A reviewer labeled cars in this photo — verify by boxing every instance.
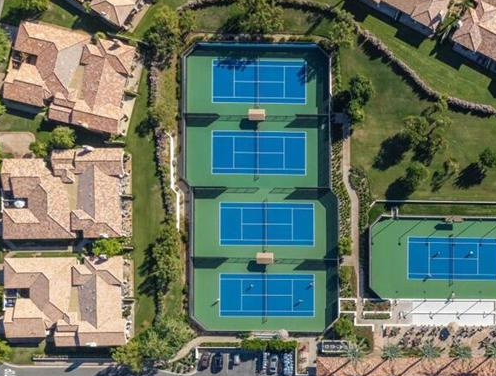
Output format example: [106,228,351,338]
[269,353,278,371]
[213,352,223,372]
[199,352,209,370]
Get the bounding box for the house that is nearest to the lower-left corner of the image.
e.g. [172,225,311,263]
[0,256,130,346]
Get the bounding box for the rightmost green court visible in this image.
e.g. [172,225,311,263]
[373,218,496,300]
